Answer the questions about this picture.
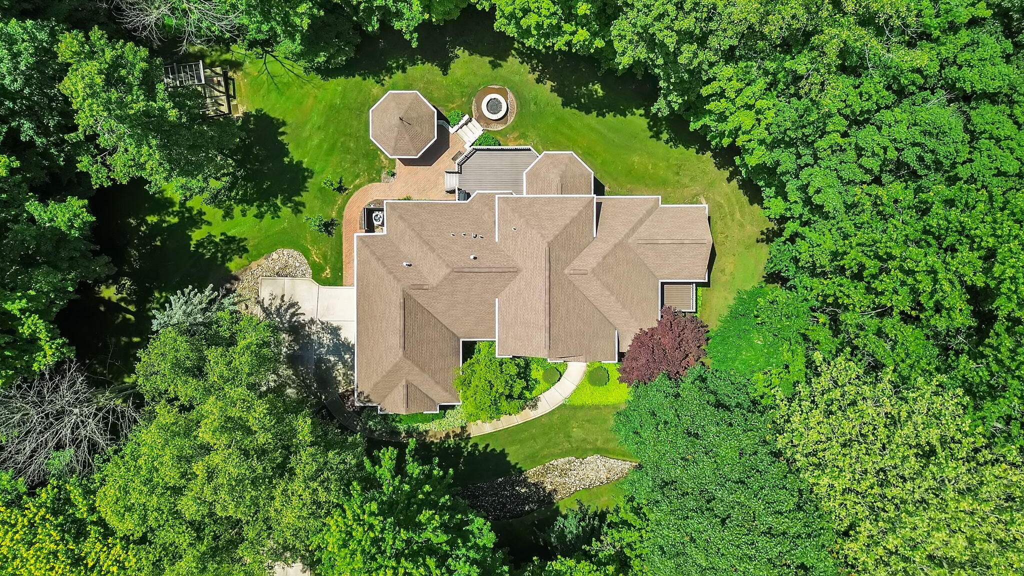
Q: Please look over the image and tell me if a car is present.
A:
No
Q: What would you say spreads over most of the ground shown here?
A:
trees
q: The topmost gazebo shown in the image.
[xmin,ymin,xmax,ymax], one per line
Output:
[369,90,438,160]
